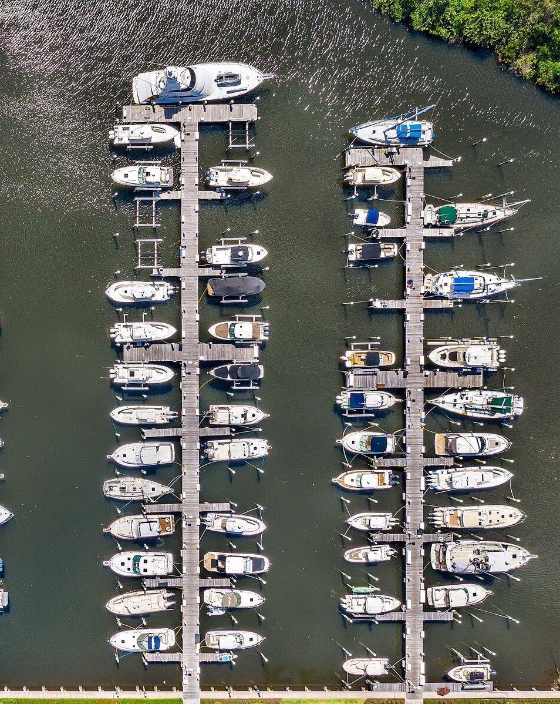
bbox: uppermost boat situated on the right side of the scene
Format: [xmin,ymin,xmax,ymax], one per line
[349,103,436,147]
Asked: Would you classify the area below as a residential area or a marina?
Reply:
marina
